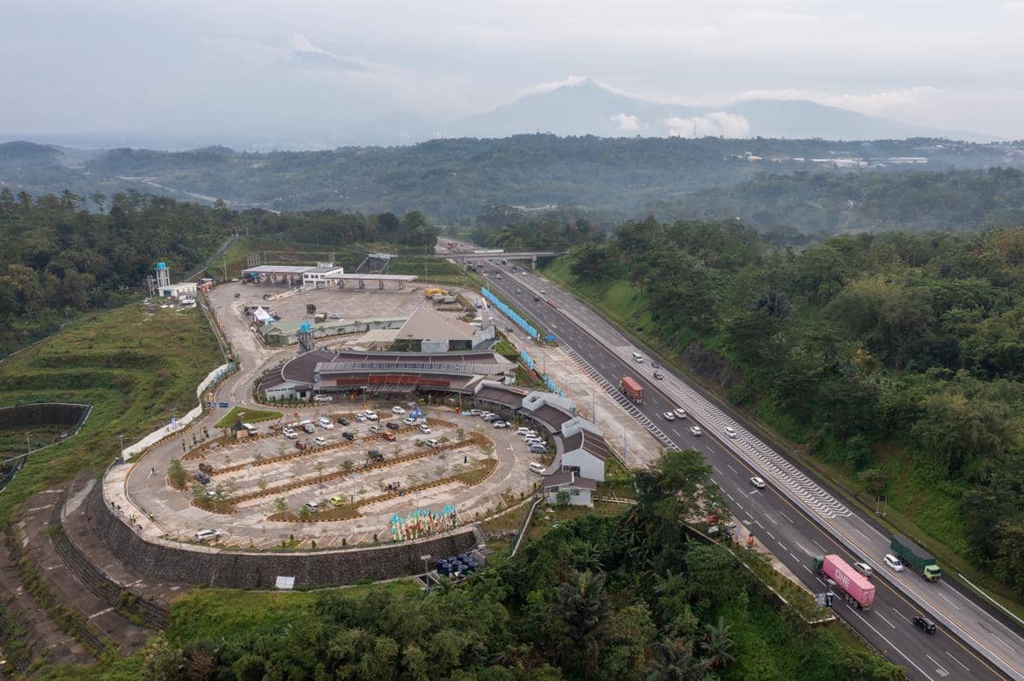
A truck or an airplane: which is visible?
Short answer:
truck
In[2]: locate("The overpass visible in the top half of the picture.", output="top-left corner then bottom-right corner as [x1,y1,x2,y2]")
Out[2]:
[356,250,560,264]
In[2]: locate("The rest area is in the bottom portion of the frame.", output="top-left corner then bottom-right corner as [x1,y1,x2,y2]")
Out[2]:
[105,263,842,619]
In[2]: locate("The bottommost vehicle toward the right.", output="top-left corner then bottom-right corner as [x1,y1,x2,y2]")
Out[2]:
[911,616,939,634]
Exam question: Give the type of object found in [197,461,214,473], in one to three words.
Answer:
vehicle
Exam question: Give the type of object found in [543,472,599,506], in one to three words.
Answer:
house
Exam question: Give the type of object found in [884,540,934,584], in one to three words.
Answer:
truck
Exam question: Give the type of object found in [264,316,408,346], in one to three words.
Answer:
building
